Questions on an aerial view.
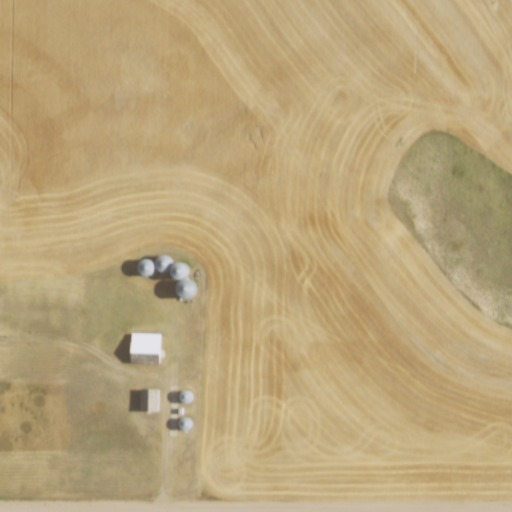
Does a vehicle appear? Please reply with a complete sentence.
No, the frame has no vehicle in it.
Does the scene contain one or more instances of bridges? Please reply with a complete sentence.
No, there appears to be no bridge in this shot.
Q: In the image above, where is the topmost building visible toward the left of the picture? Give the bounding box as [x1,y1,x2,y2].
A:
[130,333,160,364]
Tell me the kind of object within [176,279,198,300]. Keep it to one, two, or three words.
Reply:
silo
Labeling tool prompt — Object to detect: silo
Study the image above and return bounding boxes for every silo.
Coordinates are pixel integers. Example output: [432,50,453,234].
[180,390,196,404]
[138,259,156,276]
[155,255,174,272]
[179,416,194,434]
[176,279,198,300]
[170,262,190,280]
